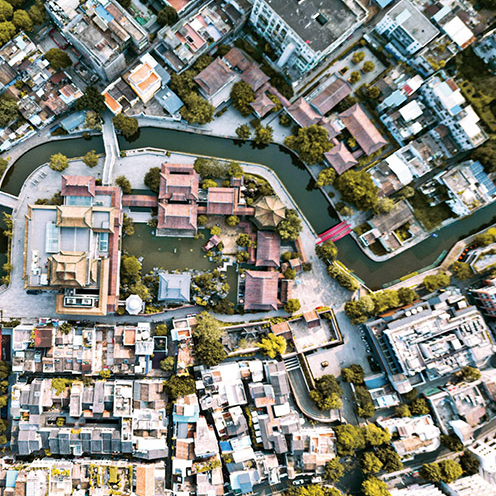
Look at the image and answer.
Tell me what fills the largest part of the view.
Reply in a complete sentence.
The bulk of the photo consists of buildings.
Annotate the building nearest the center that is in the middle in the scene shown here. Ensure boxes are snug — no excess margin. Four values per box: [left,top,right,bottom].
[252,231,280,267]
